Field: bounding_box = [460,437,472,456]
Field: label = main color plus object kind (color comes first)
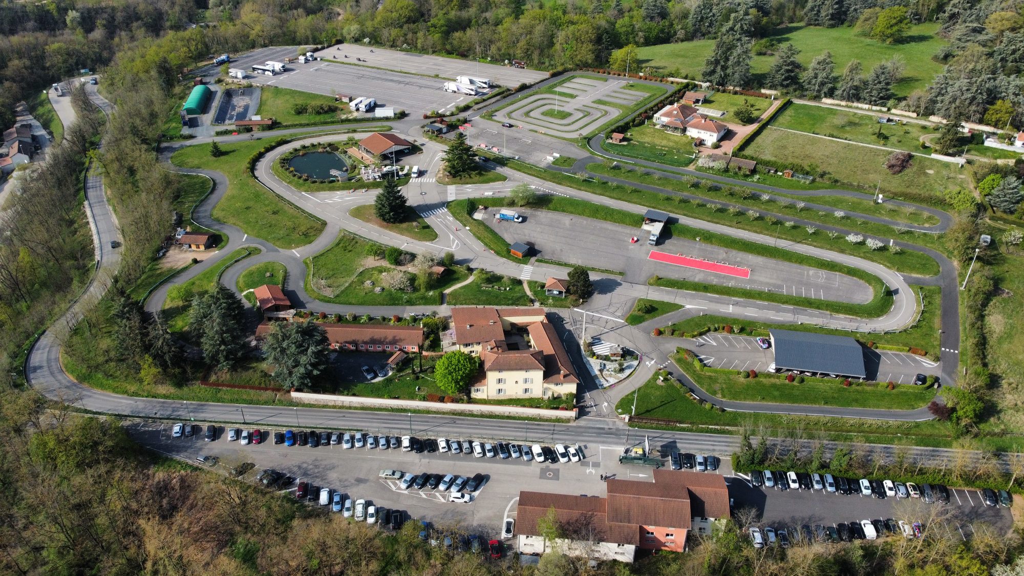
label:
gray vehicle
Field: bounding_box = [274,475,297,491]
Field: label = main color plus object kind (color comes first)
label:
black car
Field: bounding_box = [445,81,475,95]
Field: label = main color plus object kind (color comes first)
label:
white vehicle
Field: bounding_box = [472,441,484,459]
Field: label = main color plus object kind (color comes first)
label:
white vehicle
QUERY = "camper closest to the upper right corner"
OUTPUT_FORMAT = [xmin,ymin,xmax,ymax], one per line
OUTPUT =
[979,231,991,247]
